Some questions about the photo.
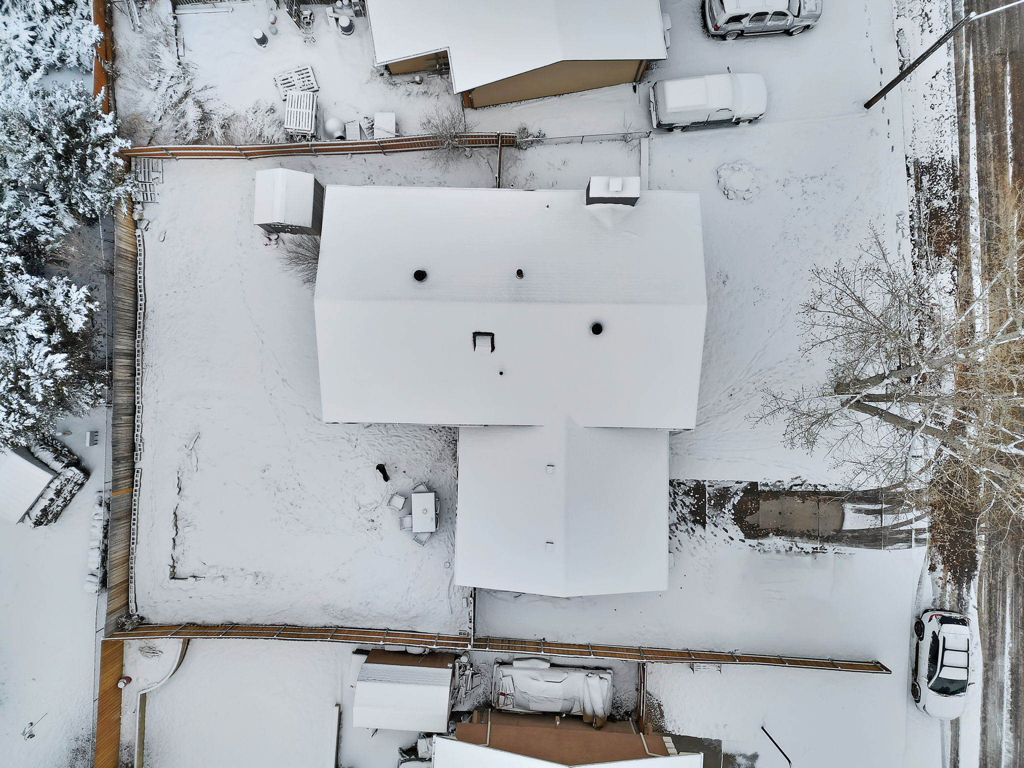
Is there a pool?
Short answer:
No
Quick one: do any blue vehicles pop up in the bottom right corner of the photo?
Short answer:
No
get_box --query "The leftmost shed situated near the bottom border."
[353,646,454,734]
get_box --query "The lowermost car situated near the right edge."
[911,603,977,717]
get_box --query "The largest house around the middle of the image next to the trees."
[313,174,708,596]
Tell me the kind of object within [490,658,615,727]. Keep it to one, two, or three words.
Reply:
trailer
